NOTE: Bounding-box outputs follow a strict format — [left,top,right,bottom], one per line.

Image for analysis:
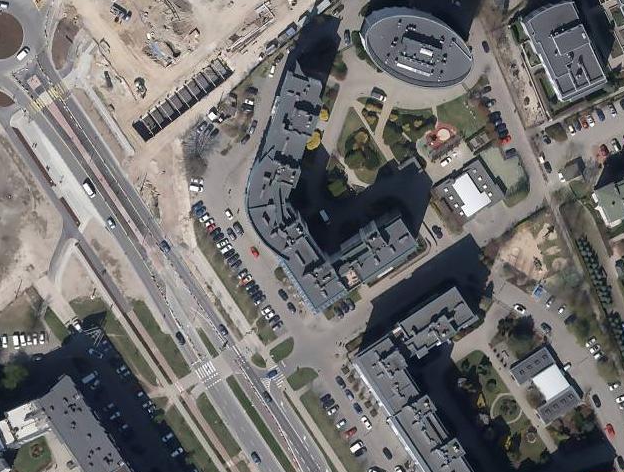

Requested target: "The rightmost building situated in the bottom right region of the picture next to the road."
[511,347,581,424]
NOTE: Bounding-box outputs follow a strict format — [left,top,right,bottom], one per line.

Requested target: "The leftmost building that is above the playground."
[361,1,474,88]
